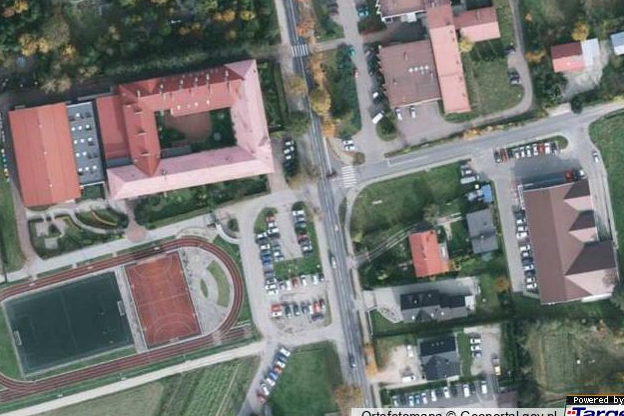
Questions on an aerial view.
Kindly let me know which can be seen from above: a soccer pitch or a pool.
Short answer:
soccer pitch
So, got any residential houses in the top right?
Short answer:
Yes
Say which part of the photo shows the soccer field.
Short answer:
bottom left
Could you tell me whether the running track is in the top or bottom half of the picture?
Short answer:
bottom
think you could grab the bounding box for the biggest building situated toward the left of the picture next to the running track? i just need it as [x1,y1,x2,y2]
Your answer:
[106,59,274,200]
